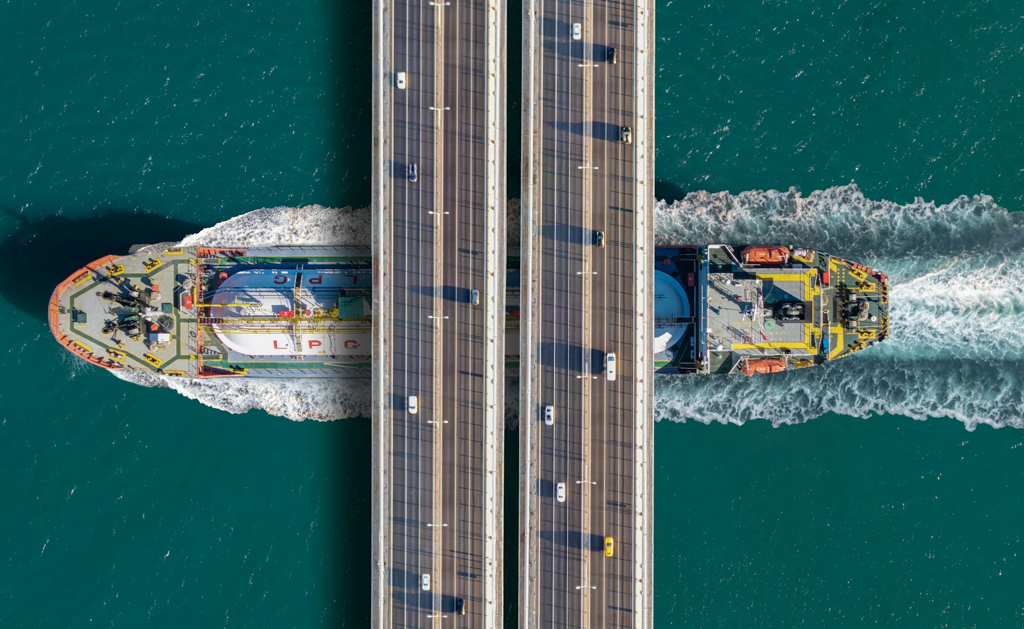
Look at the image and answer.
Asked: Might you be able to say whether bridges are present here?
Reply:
Yes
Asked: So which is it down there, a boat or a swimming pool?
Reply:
boat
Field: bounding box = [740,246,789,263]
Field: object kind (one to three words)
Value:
boat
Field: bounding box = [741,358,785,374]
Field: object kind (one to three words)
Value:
boat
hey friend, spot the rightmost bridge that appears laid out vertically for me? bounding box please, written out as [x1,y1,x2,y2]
[519,0,656,629]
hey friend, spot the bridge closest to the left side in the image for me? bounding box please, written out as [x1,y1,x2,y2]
[371,0,507,629]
